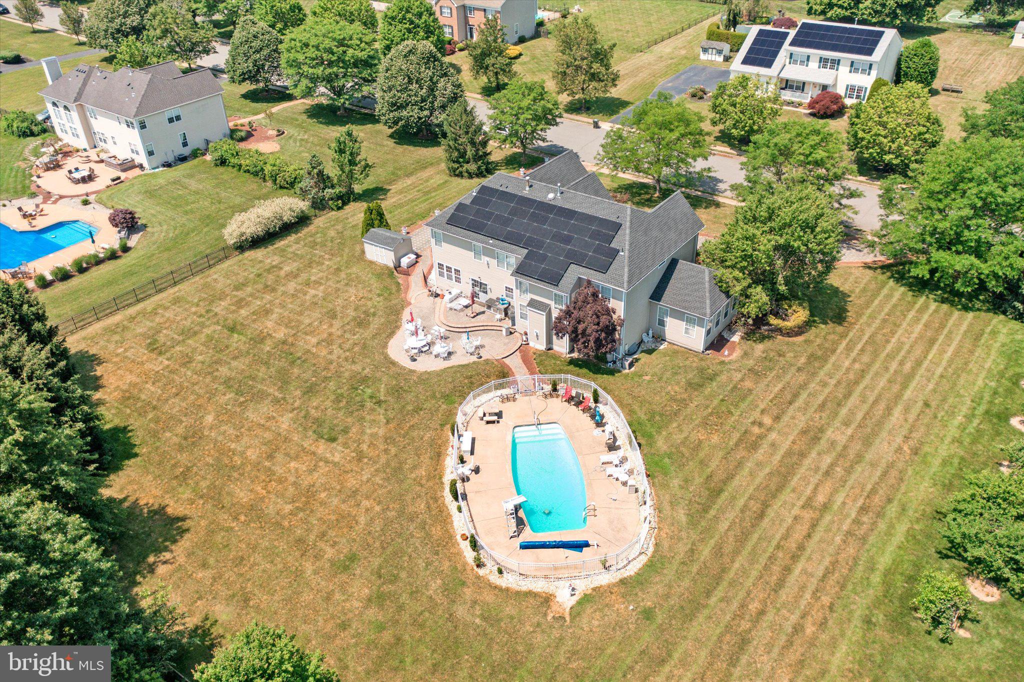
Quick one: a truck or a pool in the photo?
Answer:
pool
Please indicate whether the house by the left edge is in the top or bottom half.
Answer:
top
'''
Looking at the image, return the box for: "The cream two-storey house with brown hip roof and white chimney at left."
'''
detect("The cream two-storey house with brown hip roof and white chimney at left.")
[36,57,234,170]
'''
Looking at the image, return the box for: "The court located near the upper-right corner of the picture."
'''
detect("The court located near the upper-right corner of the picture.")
[937,9,1022,26]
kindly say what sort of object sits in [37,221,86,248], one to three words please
swimming pool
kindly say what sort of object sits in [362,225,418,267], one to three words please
shed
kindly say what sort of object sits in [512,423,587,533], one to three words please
swimming pool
